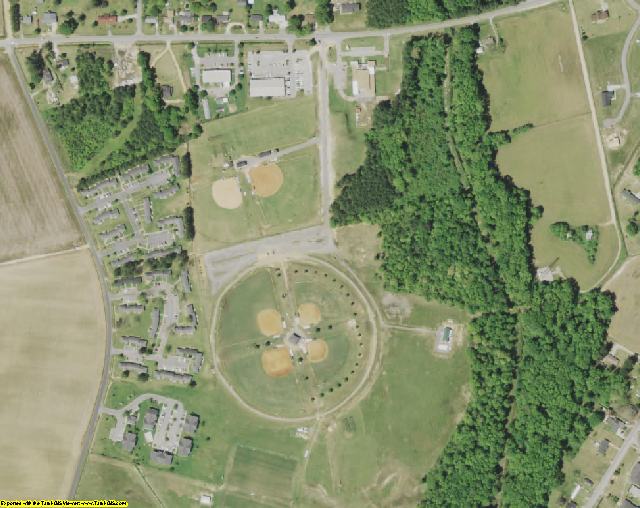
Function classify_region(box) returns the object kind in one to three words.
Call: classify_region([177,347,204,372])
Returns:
building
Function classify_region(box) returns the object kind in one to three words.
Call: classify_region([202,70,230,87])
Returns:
building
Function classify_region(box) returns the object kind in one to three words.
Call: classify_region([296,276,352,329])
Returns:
baseball field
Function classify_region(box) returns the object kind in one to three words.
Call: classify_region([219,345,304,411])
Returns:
baseball field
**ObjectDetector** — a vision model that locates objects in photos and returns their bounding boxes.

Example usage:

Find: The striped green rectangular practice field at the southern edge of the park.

[228,446,298,501]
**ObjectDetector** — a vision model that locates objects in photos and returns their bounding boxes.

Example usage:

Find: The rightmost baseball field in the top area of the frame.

[246,143,323,231]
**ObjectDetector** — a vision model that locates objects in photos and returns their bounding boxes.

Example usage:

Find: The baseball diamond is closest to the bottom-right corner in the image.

[302,330,354,386]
